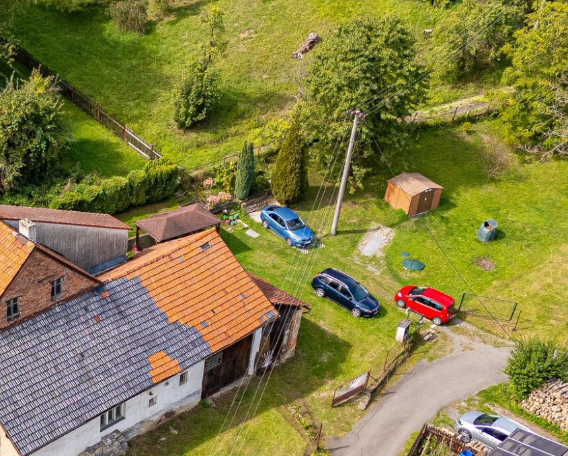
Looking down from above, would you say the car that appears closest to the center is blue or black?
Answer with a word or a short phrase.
blue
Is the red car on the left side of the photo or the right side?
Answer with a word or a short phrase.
right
